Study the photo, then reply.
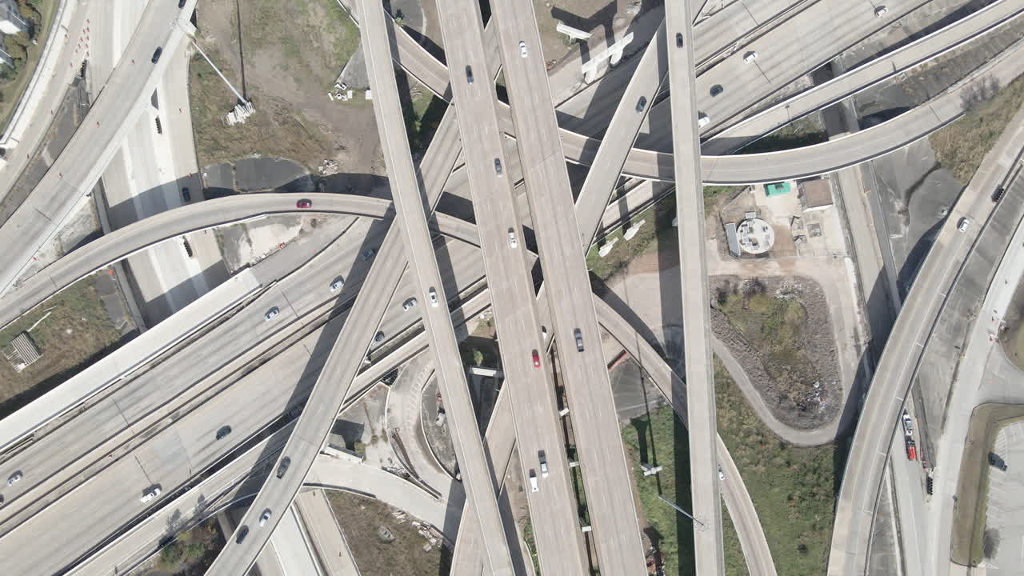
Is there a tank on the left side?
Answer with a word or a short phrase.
No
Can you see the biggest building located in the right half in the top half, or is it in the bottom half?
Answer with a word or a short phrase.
top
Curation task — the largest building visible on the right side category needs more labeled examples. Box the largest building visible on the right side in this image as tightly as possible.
[800,180,832,209]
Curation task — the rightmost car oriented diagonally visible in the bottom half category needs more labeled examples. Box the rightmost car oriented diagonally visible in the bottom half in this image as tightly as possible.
[990,455,1005,468]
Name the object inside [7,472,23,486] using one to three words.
car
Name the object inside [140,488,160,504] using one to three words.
vehicle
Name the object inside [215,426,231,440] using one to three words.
car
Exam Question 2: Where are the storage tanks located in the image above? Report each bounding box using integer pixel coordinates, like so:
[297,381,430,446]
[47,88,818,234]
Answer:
[739,217,777,255]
